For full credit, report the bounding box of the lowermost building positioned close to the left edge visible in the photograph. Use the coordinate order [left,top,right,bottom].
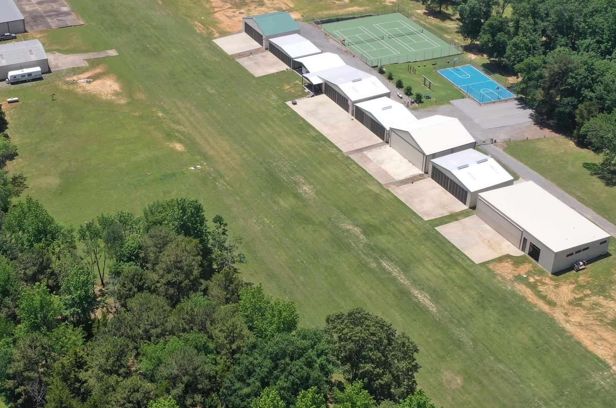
[0,38,51,80]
